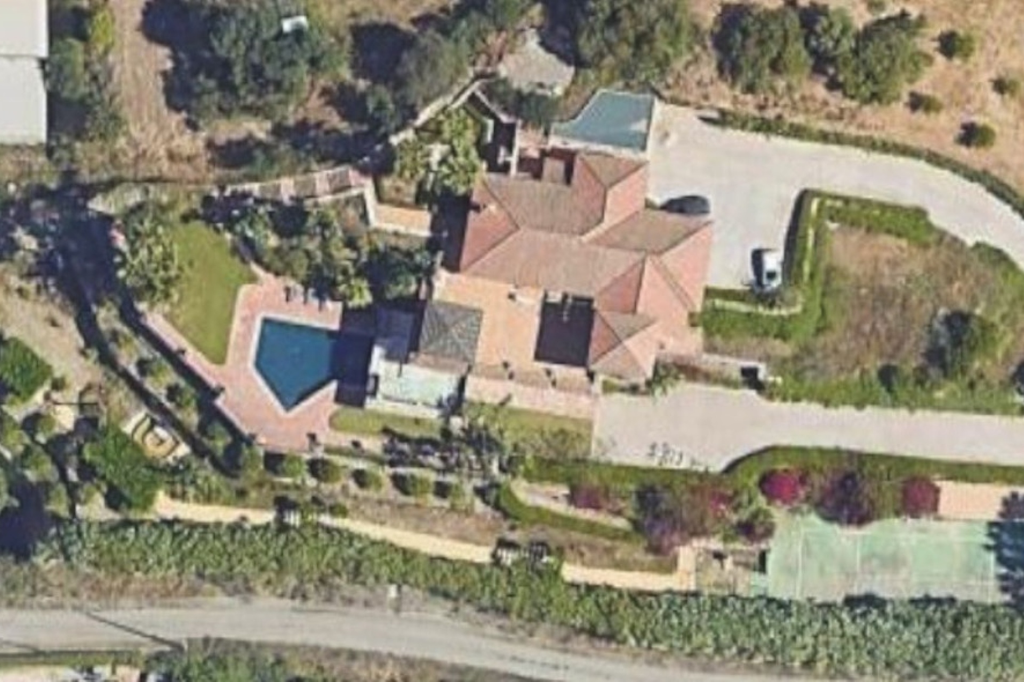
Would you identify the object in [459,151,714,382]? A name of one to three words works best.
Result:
house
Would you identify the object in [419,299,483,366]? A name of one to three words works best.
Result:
building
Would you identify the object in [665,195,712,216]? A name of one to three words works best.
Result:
car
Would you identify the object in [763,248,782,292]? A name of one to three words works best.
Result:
car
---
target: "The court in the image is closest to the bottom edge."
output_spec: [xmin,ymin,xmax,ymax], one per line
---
[765,514,1024,603]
